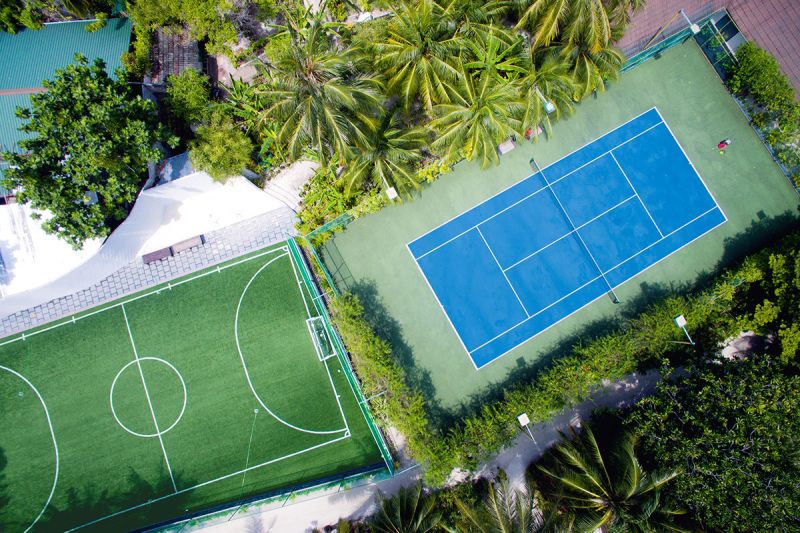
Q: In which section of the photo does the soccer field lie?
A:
bottom left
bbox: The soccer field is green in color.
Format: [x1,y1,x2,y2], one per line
[0,244,385,533]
